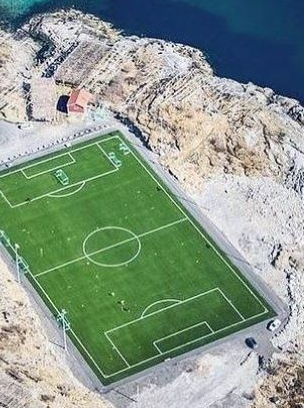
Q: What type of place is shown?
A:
sports ground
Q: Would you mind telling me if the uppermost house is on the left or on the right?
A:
left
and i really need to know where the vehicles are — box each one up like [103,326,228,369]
[268,320,281,331]
[244,339,260,348]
